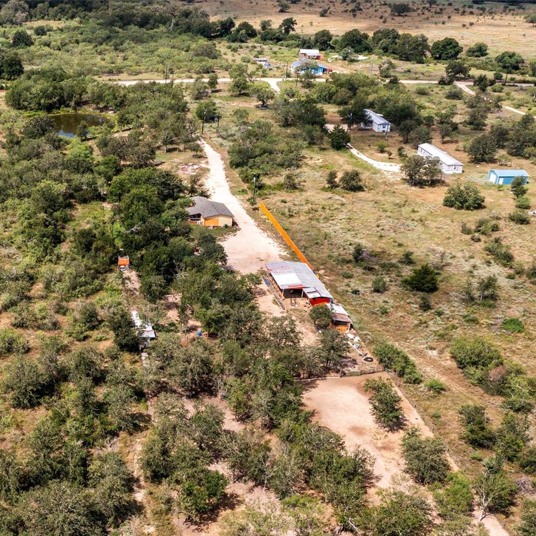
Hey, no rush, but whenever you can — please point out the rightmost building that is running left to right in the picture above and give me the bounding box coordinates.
[488,170,531,184]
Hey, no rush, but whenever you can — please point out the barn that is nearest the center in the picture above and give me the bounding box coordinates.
[265,261,332,307]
